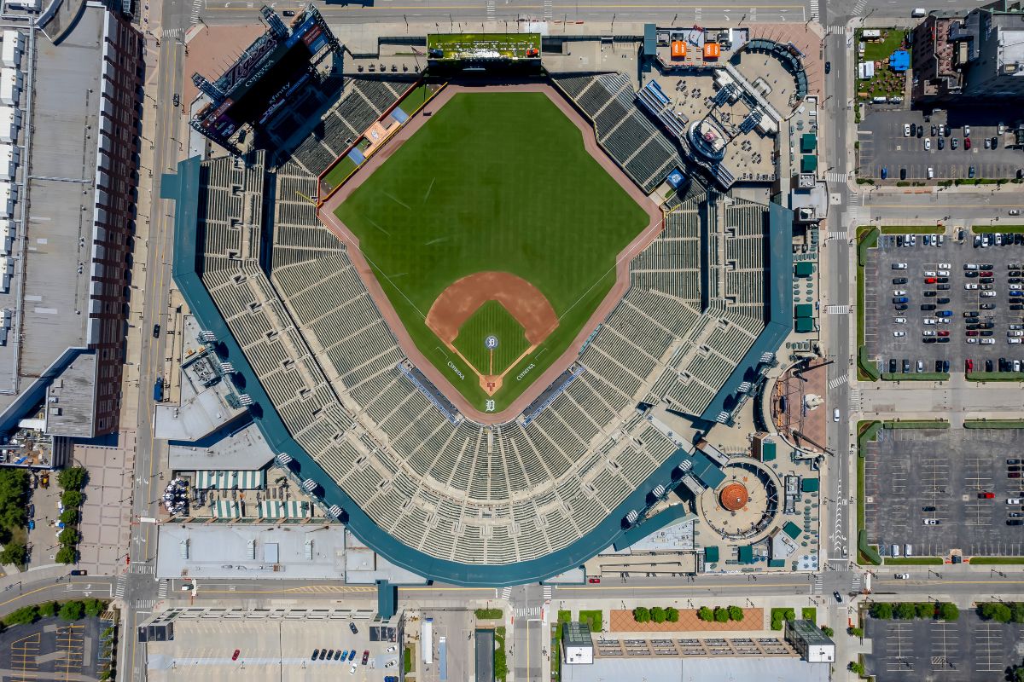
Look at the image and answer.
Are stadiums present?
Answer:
Yes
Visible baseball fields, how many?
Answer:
1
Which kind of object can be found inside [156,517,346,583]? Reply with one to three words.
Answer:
building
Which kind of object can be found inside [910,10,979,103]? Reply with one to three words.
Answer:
building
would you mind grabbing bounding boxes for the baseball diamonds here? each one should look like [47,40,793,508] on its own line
[304,71,675,427]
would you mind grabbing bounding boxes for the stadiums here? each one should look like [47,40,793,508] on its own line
[160,73,792,587]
